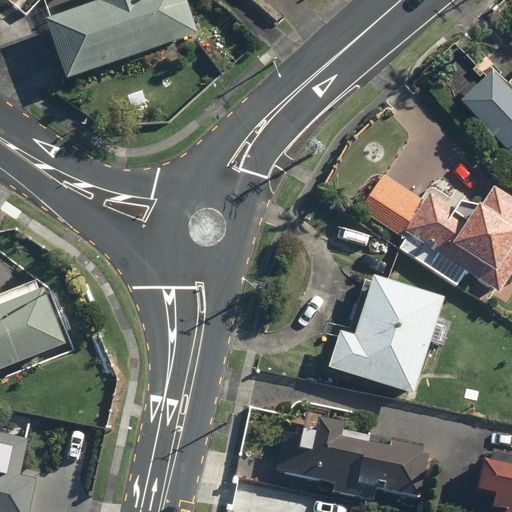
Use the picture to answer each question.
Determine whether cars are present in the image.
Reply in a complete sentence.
Yes, you can see a car in this photo.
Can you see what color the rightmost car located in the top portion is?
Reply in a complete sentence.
The rightmost car located in the top portion is red.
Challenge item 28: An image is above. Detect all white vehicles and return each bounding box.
[68,428,86,462]
[313,500,346,512]
[492,433,512,446]
[298,296,324,326]
[336,227,373,248]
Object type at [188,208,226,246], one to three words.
roundabout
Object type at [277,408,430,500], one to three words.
house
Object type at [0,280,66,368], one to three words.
house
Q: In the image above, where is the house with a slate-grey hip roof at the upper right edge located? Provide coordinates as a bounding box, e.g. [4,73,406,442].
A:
[460,69,512,152]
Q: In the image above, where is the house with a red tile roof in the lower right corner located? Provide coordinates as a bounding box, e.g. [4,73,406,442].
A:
[478,452,512,510]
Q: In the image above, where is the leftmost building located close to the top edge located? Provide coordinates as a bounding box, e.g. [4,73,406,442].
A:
[46,0,198,79]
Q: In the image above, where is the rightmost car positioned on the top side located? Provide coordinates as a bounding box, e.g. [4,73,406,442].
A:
[454,163,476,188]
